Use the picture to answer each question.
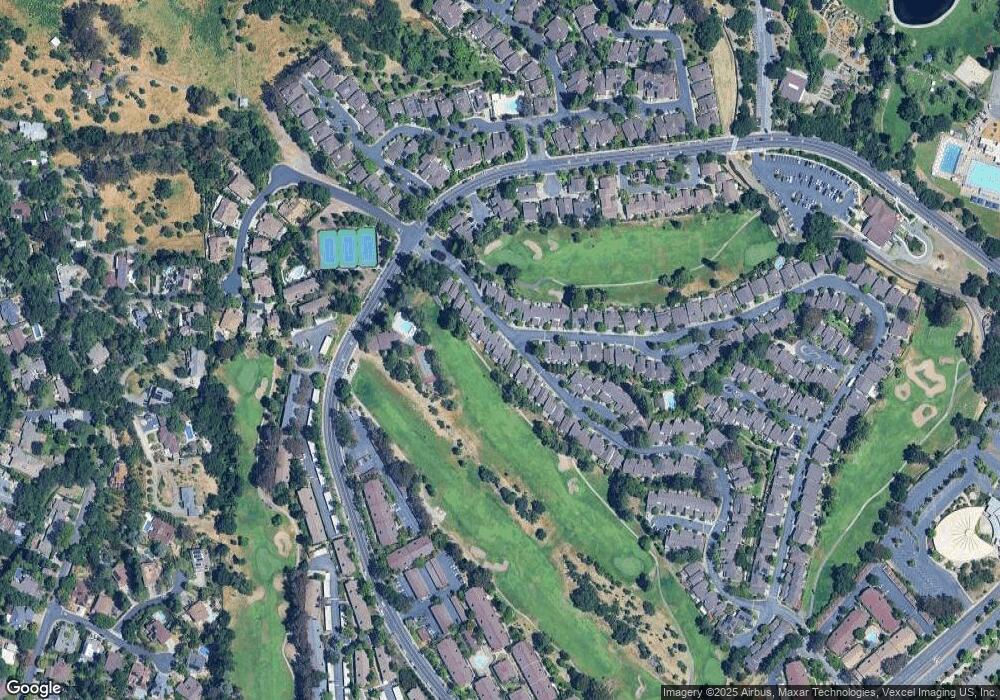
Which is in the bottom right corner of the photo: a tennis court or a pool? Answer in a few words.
pool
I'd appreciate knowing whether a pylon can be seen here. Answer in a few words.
No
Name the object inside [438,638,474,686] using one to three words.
building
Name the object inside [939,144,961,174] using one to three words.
swimming pool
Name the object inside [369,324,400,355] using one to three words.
house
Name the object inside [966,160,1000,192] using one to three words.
swimming pool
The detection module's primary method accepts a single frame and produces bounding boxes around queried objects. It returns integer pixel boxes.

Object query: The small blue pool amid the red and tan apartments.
[863,625,883,647]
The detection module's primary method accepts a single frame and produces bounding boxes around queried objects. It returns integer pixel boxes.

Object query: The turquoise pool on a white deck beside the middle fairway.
[393,312,416,338]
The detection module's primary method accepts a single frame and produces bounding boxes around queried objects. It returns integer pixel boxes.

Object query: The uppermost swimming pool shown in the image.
[492,92,524,119]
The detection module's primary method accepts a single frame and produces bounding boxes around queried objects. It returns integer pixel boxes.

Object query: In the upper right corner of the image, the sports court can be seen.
[954,57,991,87]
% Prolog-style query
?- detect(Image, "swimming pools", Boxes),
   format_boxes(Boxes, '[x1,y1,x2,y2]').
[492,92,524,119]
[184,419,196,442]
[143,515,153,530]
[468,647,494,675]
[663,391,678,411]
[393,312,416,338]
[286,266,306,279]
[32,322,44,340]
[153,611,166,624]
[966,160,1000,192]
[774,256,785,269]
[939,144,961,174]
[863,625,883,647]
